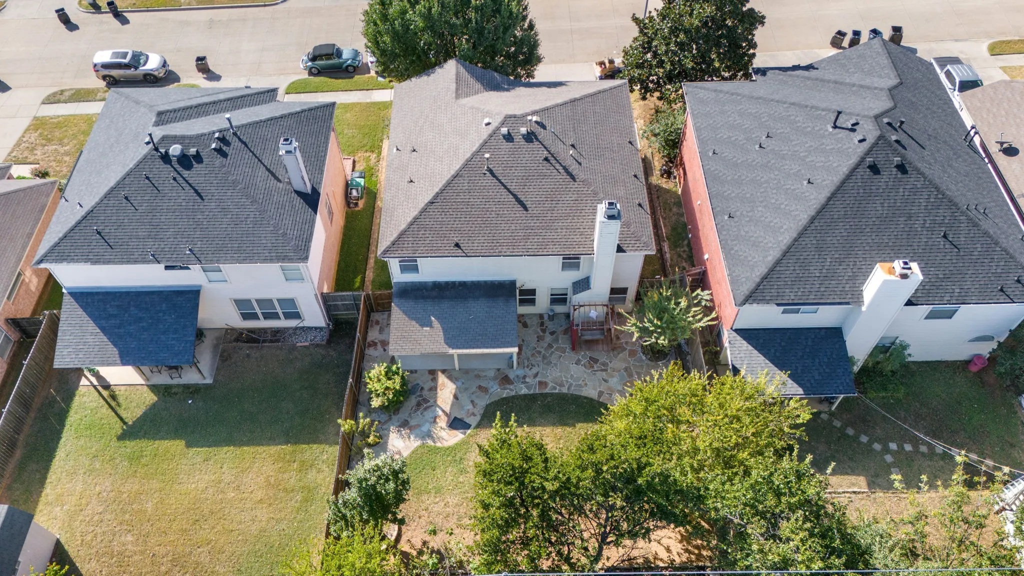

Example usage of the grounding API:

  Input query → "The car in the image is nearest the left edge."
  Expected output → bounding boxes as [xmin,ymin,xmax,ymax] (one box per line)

[88,46,169,84]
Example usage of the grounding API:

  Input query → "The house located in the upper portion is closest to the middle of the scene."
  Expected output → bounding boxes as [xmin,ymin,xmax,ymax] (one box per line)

[376,57,656,371]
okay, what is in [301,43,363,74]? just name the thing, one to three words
car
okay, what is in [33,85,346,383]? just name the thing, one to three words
house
